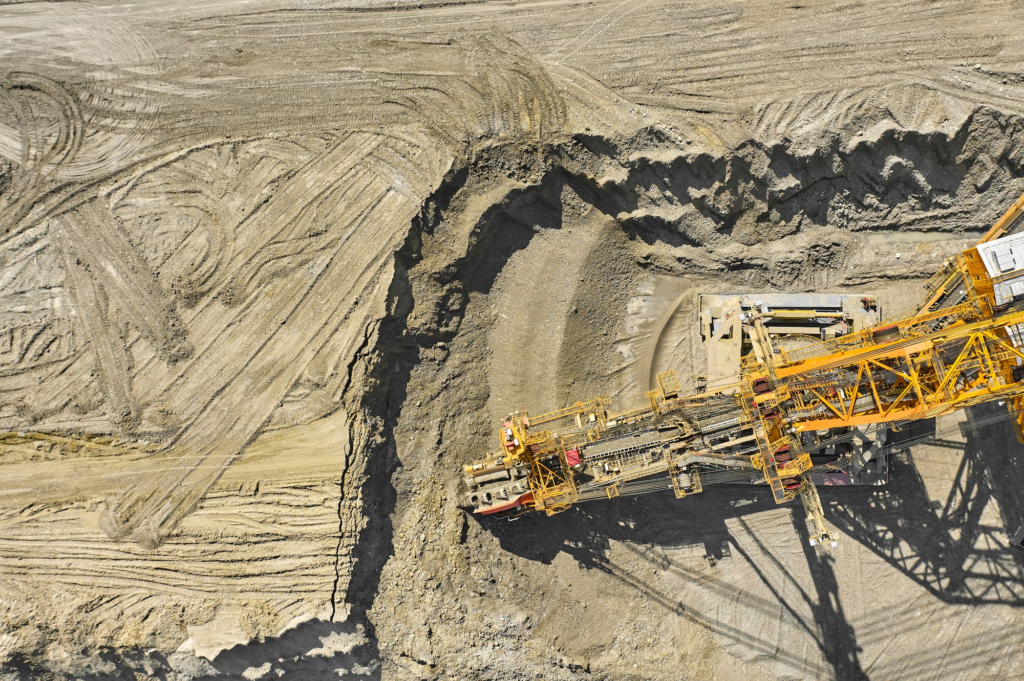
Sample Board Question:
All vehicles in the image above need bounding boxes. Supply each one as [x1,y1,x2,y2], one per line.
[462,229,1024,555]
